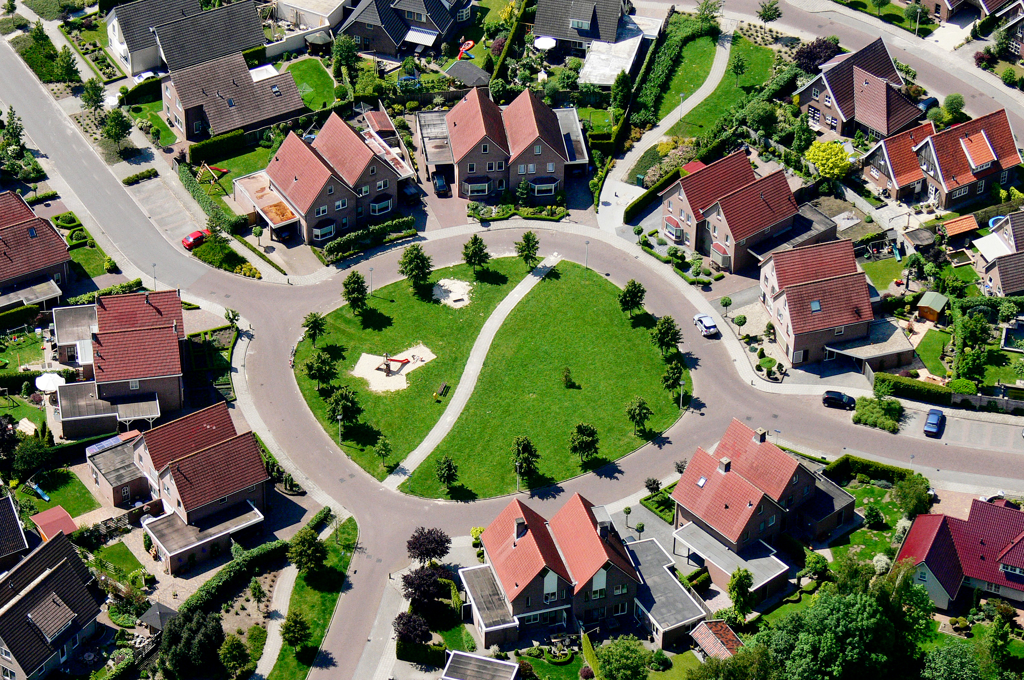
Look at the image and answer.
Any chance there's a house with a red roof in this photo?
Yes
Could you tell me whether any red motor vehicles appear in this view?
Yes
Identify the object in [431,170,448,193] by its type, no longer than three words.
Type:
car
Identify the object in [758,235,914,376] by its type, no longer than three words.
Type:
house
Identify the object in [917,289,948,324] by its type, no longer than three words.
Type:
shed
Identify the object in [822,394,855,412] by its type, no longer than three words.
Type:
car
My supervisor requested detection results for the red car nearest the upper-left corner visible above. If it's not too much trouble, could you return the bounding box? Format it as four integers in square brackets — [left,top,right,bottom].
[181,230,213,248]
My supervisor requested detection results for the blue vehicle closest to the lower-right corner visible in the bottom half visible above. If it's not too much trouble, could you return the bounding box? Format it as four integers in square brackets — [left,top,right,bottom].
[924,409,943,436]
